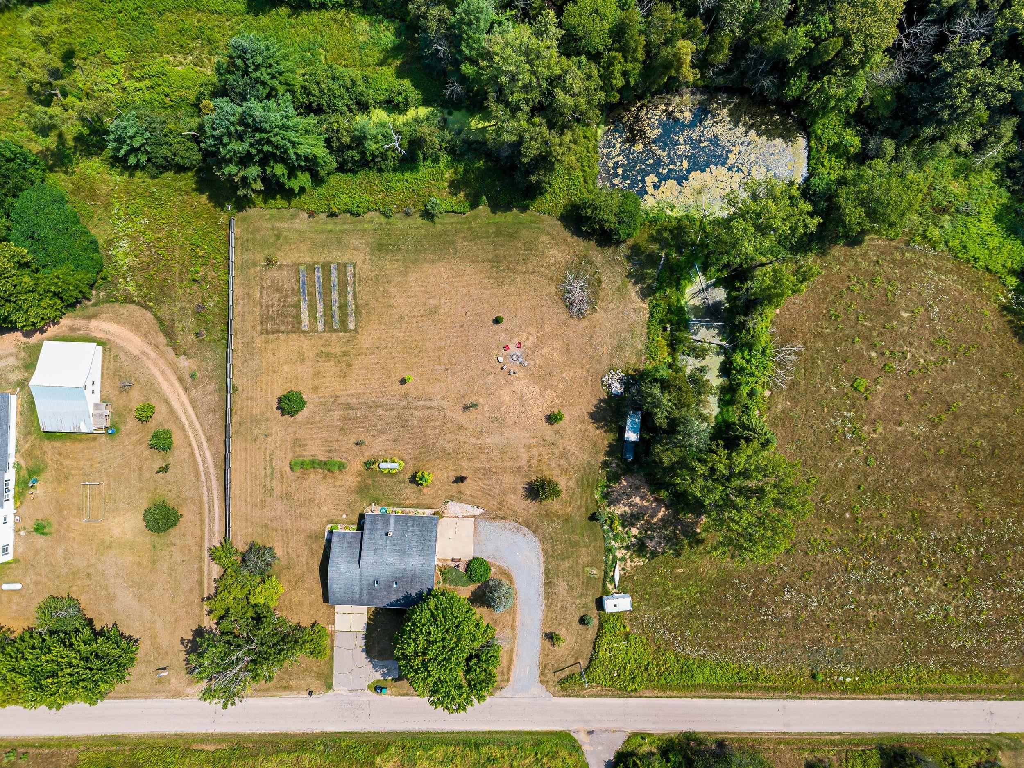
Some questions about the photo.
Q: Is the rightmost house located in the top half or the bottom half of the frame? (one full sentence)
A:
Seen from above, the rightmost house lies in the bottom half of the view.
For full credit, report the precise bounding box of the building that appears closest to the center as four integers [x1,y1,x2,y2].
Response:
[328,504,439,610]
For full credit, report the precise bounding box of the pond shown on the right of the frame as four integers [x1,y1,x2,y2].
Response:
[597,93,808,216]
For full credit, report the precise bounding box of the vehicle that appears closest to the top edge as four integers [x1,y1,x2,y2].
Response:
[622,408,642,459]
